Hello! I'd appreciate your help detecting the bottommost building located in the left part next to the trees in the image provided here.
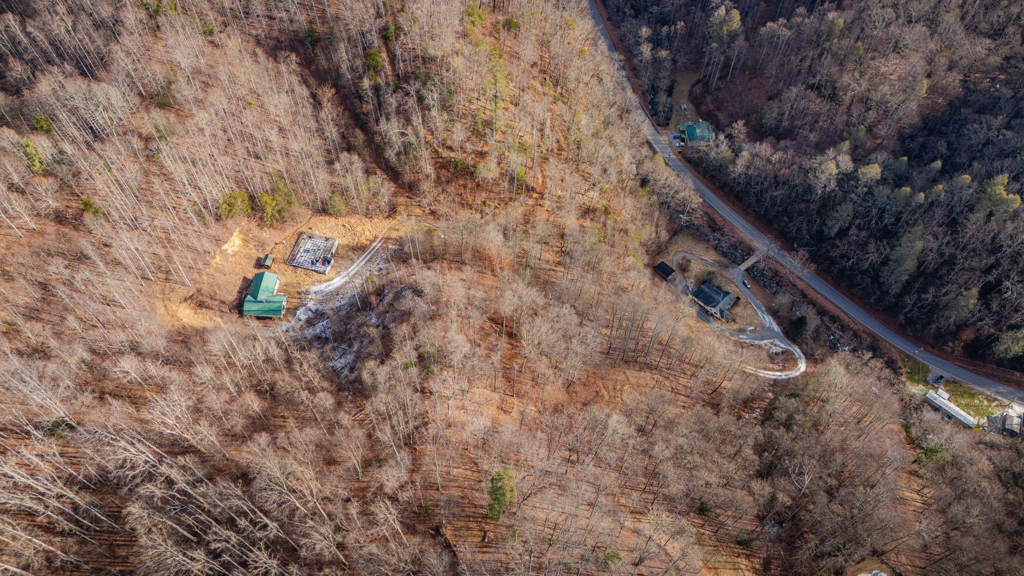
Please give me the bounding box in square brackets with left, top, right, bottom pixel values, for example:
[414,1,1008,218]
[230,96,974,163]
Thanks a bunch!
[243,271,287,323]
